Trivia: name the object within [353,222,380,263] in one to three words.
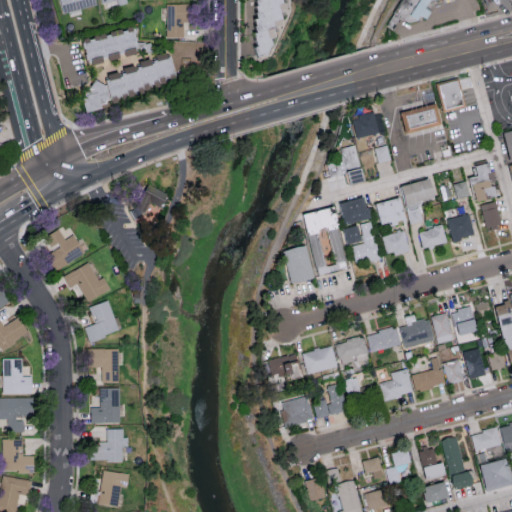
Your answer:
building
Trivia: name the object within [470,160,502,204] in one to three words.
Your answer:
house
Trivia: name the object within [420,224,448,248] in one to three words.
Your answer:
house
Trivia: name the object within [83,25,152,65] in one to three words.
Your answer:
building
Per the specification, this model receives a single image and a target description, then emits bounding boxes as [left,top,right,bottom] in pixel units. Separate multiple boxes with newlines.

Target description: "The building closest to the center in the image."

[284,247,315,284]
